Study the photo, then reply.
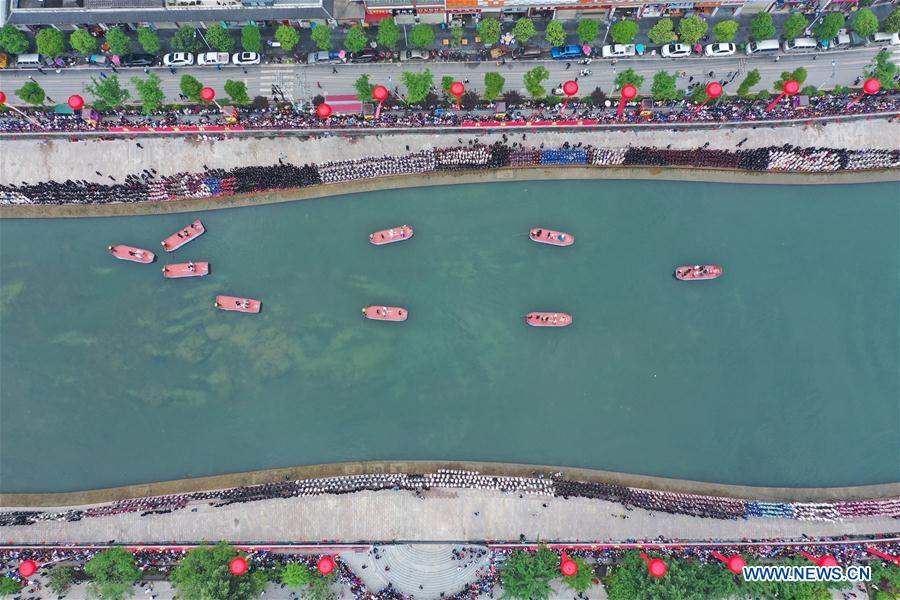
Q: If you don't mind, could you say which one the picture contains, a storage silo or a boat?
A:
boat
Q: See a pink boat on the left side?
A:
Yes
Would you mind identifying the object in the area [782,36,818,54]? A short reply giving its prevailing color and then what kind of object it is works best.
white vehicle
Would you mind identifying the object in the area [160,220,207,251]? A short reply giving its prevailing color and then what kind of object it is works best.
pink boat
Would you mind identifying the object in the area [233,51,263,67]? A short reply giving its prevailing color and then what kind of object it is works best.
white car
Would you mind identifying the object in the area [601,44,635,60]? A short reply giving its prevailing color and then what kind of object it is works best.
white vehicle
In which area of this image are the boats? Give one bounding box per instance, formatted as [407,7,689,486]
[110,246,158,264]
[528,228,576,246]
[163,262,211,278]
[674,264,723,279]
[214,295,264,314]
[368,226,414,244]
[526,312,573,328]
[363,306,410,322]
[160,220,207,251]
